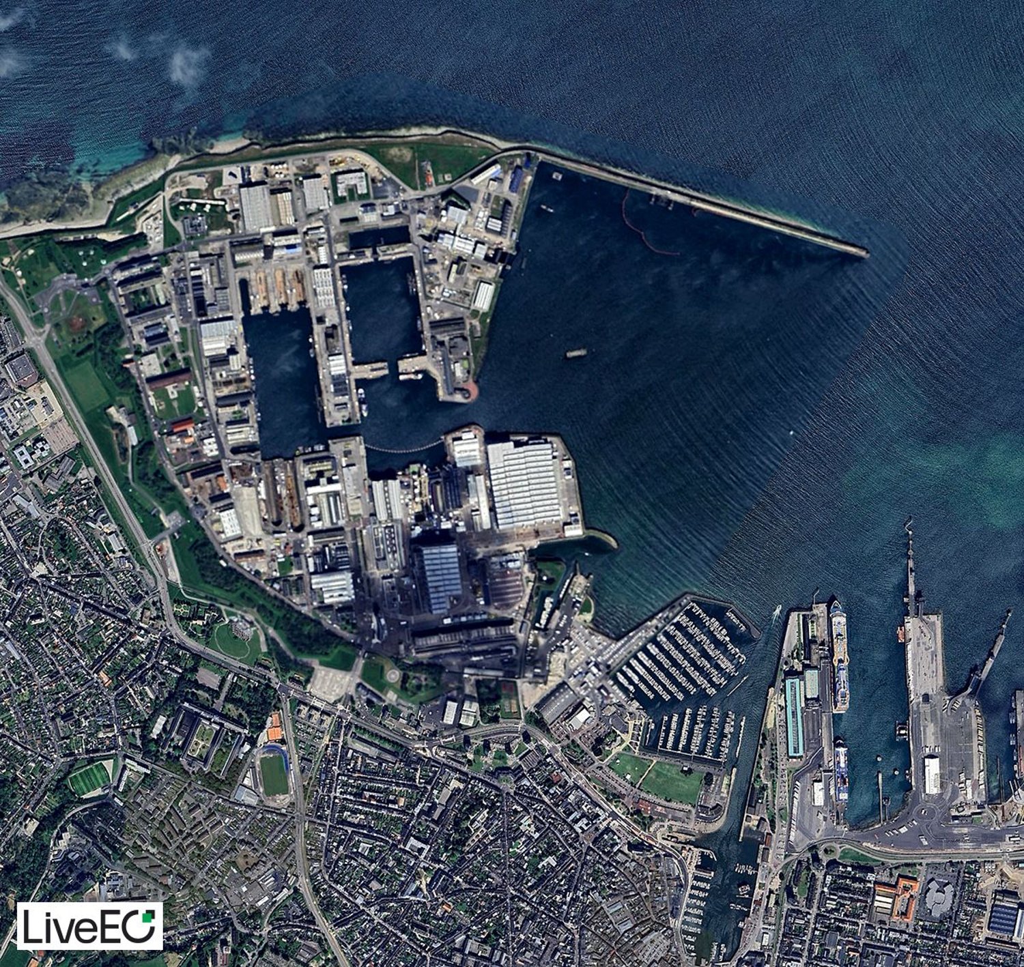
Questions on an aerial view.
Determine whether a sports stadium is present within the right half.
No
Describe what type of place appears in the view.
port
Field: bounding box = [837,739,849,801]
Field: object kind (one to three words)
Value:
ship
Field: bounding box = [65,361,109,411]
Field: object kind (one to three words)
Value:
sports field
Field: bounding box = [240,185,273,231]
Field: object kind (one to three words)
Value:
building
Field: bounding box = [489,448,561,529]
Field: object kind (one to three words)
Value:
building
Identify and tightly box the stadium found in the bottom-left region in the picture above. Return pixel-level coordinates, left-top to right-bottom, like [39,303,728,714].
[251,743,297,807]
